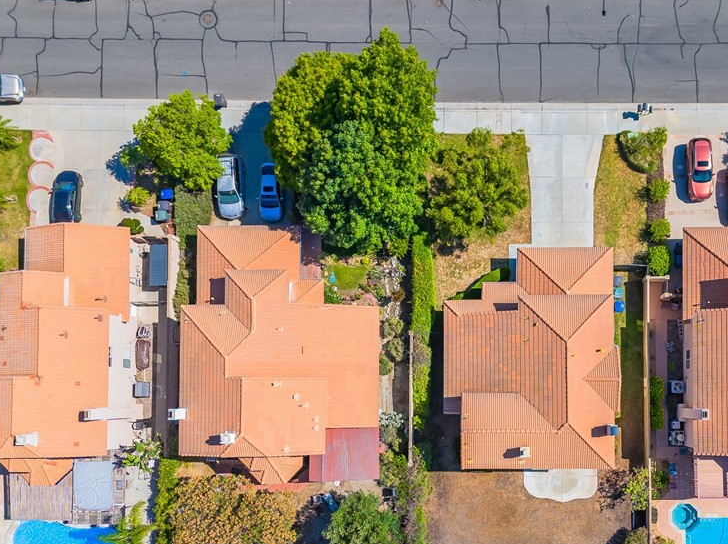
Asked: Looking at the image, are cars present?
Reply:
Yes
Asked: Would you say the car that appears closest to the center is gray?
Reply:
No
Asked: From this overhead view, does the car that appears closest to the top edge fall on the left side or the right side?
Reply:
left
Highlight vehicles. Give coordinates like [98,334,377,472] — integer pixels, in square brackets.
[0,72,31,107]
[683,139,715,204]
[48,171,87,225]
[213,153,247,220]
[254,164,286,225]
